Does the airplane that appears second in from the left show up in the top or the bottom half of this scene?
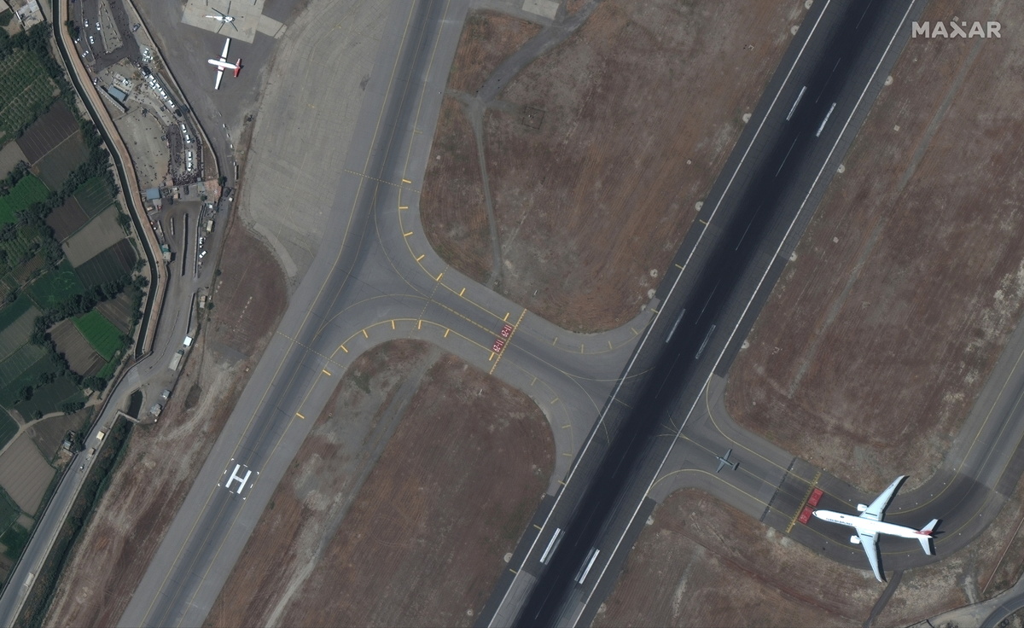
bottom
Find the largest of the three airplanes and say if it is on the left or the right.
right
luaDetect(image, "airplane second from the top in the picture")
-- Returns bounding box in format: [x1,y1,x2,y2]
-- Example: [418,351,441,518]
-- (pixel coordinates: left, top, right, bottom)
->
[717,448,737,472]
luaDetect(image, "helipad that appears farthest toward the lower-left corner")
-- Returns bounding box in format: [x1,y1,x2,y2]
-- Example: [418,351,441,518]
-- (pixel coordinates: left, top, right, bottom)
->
[219,459,259,500]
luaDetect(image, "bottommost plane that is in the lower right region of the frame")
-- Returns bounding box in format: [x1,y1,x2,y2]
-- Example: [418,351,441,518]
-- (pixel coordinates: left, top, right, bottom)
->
[812,476,938,582]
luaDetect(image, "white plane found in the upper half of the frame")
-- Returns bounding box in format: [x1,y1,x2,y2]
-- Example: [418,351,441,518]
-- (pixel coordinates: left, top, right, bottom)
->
[208,38,242,88]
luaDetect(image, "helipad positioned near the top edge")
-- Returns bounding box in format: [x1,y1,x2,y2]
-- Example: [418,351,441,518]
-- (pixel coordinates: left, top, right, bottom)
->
[181,0,287,43]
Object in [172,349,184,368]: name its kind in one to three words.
vehicle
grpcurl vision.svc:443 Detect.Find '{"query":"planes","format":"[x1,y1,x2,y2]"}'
[208,38,242,88]
[812,476,938,582]
[717,448,737,472]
